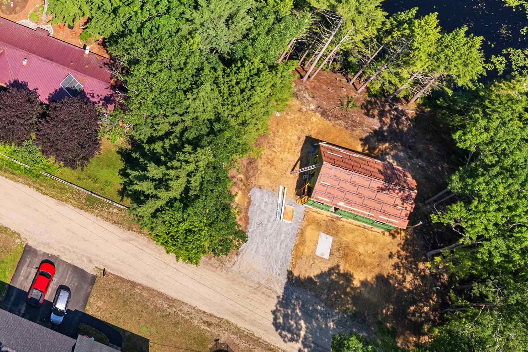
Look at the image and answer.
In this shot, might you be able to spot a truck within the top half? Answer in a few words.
No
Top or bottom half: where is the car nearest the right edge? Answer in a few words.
bottom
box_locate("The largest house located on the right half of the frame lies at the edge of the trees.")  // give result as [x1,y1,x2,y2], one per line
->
[299,143,420,233]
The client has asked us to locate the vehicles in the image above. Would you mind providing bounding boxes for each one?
[28,257,53,309]
[51,282,72,327]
